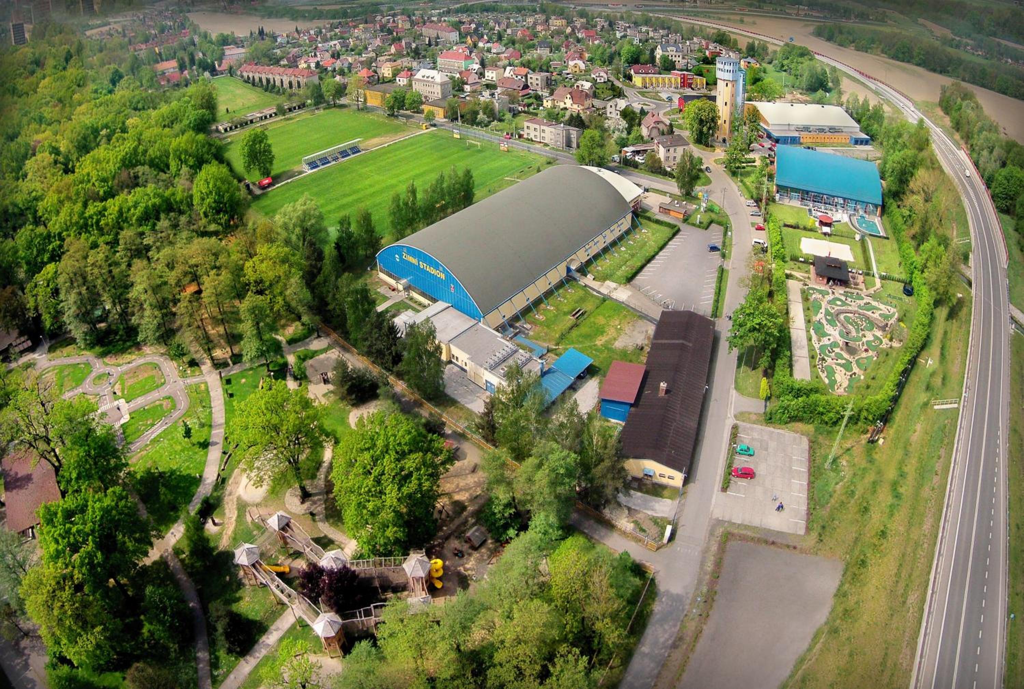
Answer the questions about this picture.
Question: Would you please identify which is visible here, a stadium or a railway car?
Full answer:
Visible in the photo is a stadium.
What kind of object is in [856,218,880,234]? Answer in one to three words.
swimming pool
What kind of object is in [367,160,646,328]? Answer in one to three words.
stadium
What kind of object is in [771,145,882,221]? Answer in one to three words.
building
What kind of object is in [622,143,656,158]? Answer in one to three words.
shed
